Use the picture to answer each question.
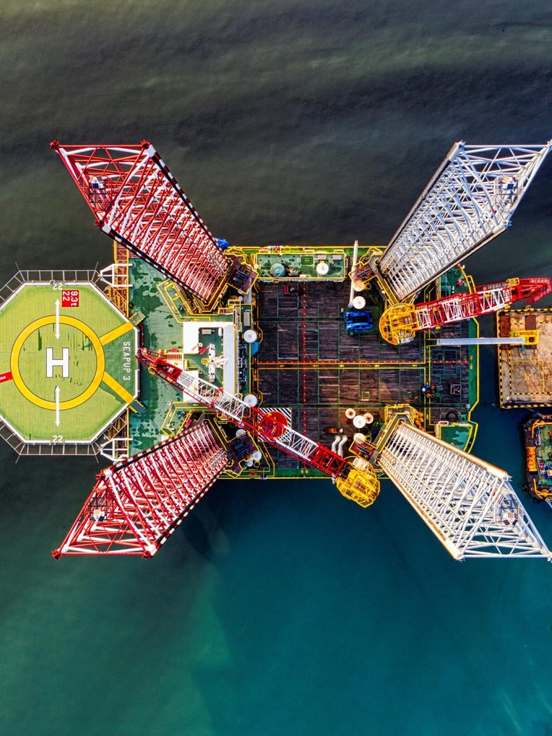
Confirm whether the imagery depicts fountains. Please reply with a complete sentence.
No, I can't see a single fountain in this photo.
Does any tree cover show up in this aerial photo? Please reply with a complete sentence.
No, the picture contains no tree cover.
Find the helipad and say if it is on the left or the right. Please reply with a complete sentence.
The helipad appears in the left half of the scene.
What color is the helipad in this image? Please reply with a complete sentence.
From above, the helipad appears yellow.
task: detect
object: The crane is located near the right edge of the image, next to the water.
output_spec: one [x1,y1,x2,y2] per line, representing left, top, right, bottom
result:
[377,273,547,344]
